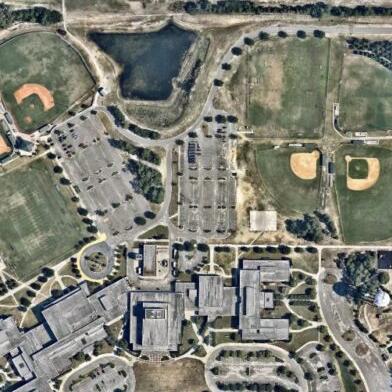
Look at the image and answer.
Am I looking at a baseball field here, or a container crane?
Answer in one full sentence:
Looking from above, you can make out a baseball field.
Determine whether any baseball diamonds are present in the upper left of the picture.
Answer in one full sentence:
Yes, you'll find a baseball diamond in the upper left of the picture.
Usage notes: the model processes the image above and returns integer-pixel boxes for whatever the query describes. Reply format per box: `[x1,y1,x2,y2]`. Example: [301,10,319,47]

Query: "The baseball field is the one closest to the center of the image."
[256,142,325,213]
